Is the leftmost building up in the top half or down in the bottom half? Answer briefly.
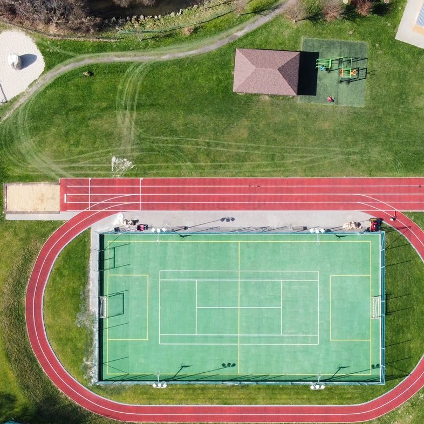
top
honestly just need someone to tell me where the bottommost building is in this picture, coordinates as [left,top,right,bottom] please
[233,49,300,97]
